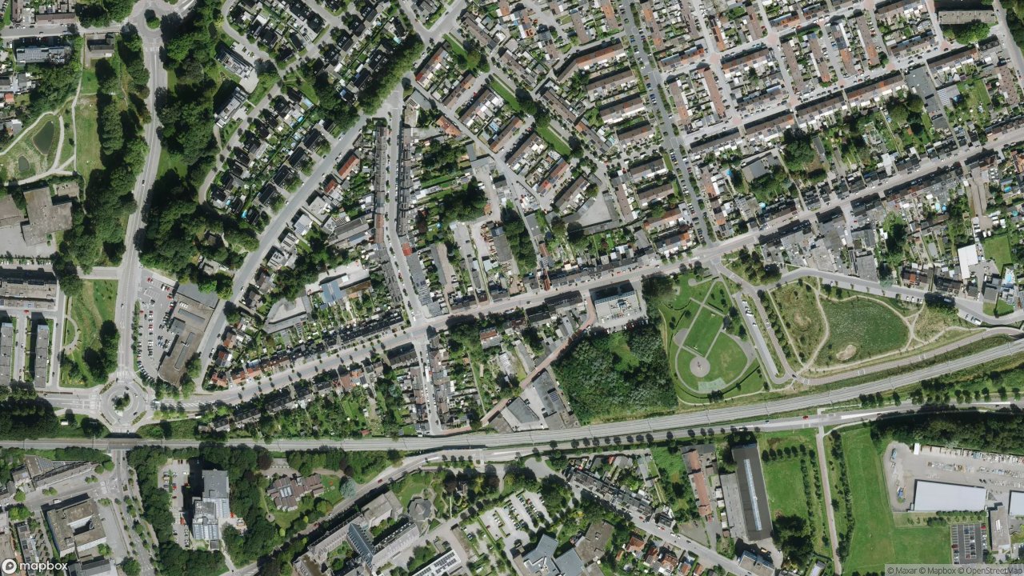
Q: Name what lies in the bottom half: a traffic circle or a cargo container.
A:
traffic circle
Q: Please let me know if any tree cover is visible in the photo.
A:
Yes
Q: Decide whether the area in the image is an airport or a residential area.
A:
residential area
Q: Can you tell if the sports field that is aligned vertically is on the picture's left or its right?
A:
right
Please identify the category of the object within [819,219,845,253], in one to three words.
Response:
building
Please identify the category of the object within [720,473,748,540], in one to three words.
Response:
shed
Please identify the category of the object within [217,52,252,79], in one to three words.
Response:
building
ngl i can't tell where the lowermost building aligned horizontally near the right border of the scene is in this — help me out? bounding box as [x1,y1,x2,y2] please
[914,481,986,511]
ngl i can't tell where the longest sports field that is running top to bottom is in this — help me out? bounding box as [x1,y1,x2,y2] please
[842,429,894,573]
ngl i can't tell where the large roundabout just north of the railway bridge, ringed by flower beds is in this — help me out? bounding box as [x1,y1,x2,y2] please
[95,377,148,431]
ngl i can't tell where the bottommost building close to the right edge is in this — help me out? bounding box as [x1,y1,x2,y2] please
[990,506,1010,550]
